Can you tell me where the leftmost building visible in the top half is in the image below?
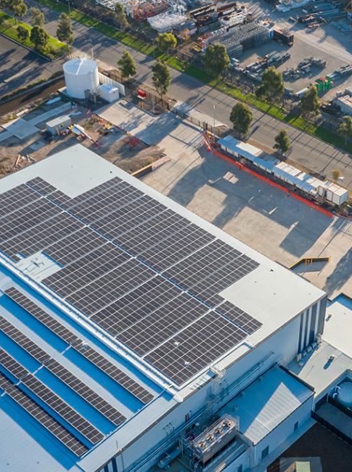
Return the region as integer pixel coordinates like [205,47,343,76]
[45,116,72,134]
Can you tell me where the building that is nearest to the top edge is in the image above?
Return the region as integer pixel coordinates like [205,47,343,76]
[100,84,120,106]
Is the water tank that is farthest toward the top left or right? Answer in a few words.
left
